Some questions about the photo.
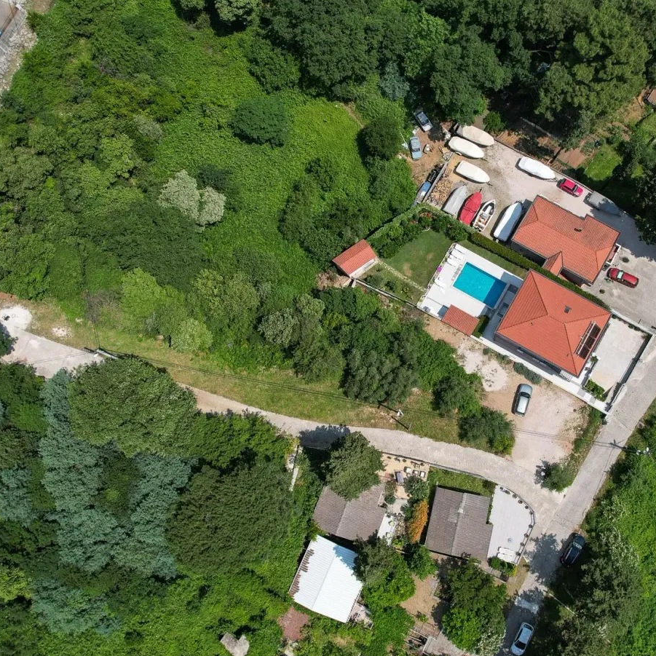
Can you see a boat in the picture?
Yes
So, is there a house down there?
Yes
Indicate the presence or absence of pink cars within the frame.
Yes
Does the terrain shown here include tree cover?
Yes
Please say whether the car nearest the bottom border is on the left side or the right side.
right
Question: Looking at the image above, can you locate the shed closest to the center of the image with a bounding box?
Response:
[337,240,377,279]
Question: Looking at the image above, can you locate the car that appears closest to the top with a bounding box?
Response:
[413,110,432,133]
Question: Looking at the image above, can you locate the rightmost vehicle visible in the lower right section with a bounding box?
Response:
[559,533,585,566]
